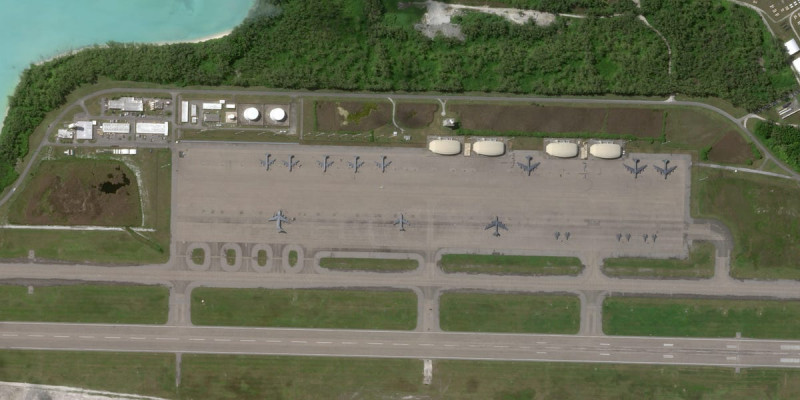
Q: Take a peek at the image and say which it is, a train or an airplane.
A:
airplane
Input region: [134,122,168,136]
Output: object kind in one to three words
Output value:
building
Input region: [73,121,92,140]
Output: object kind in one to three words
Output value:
building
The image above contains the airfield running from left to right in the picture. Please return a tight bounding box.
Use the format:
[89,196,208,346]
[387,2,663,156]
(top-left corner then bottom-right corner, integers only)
[0,141,800,387]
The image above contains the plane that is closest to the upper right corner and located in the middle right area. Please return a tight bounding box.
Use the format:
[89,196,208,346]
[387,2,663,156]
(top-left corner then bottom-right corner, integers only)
[655,159,677,180]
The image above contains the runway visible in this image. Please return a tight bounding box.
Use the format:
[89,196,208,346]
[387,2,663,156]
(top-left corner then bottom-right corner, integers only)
[0,322,800,367]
